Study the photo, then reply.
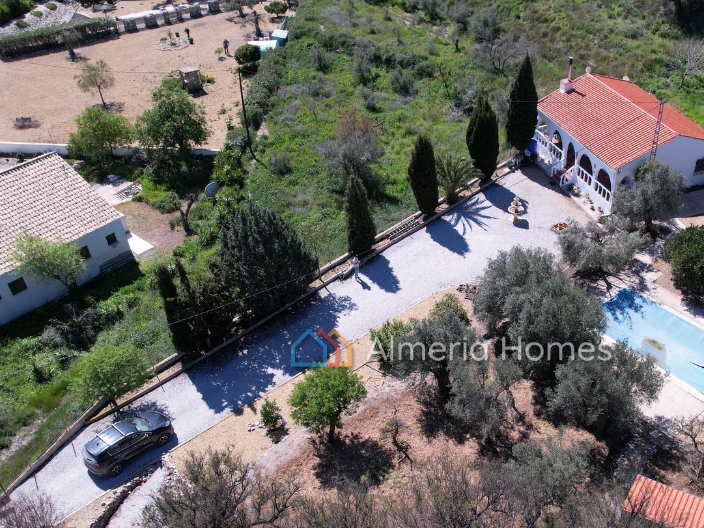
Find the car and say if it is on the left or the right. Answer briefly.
left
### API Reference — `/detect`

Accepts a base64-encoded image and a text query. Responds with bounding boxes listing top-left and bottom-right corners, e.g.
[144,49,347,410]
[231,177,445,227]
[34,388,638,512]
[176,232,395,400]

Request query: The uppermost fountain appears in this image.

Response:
[507,198,525,223]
